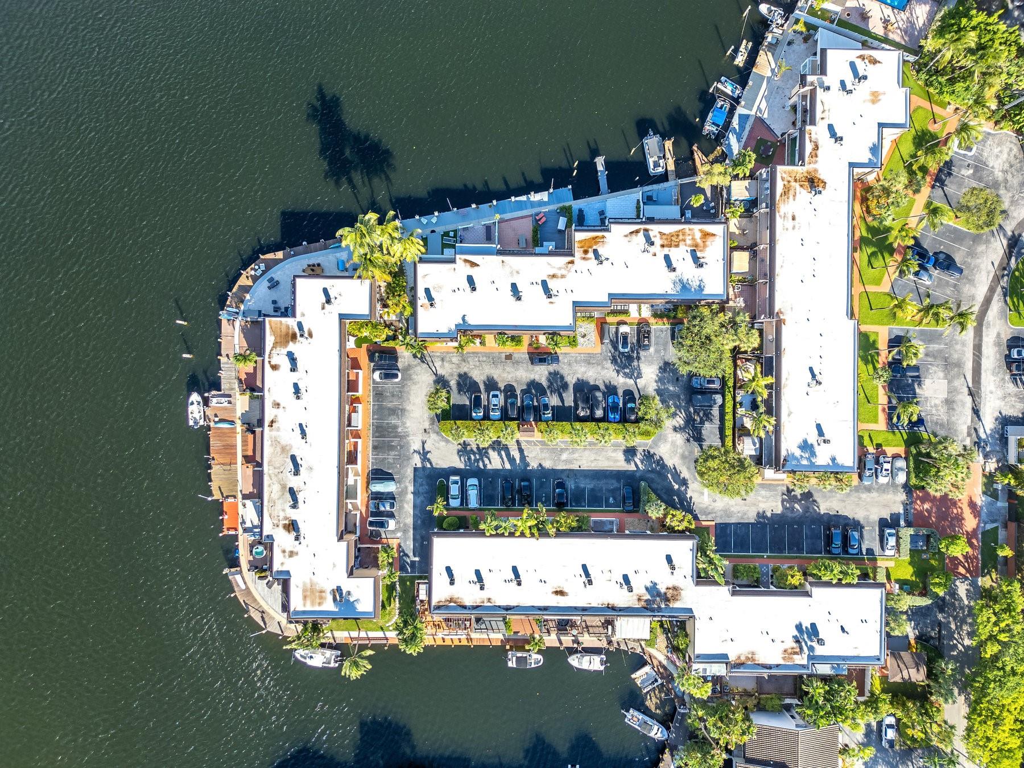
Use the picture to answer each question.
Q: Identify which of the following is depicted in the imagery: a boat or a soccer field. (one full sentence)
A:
Visible in the photo is a boat.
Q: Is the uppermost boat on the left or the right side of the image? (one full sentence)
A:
The uppermost boat appears in the right half of the scene.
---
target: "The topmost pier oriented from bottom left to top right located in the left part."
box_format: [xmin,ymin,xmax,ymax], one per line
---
[221,236,344,319]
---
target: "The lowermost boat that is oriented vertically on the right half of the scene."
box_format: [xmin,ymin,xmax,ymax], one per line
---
[645,132,665,175]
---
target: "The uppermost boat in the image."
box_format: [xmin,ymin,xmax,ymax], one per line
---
[755,4,788,24]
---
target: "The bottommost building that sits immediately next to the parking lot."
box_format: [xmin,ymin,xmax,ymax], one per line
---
[430,528,885,675]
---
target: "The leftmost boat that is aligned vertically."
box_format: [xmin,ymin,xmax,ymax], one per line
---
[188,391,203,431]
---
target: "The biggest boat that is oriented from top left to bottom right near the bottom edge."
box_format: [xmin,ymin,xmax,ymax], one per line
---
[621,706,666,738]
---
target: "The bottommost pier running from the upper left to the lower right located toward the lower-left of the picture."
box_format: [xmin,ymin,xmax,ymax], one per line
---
[225,567,296,639]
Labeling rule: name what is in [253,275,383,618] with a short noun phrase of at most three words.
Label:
building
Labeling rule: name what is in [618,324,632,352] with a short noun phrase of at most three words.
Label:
car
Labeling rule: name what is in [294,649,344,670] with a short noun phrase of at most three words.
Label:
boat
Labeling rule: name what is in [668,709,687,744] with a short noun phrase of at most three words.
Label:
pier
